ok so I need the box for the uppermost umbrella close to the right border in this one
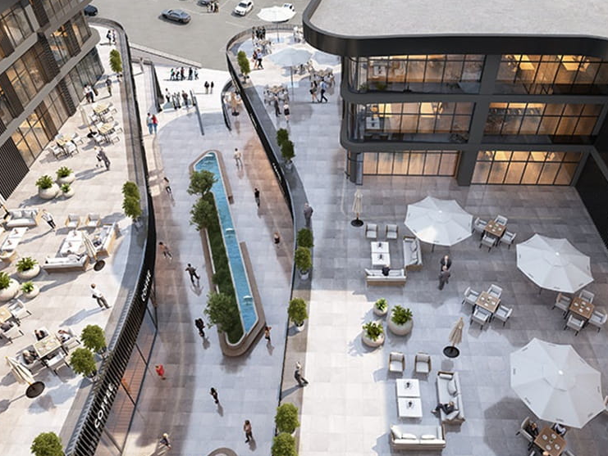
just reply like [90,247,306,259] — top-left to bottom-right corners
[513,238,593,300]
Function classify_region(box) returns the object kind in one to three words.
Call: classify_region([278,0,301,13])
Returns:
vehicle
